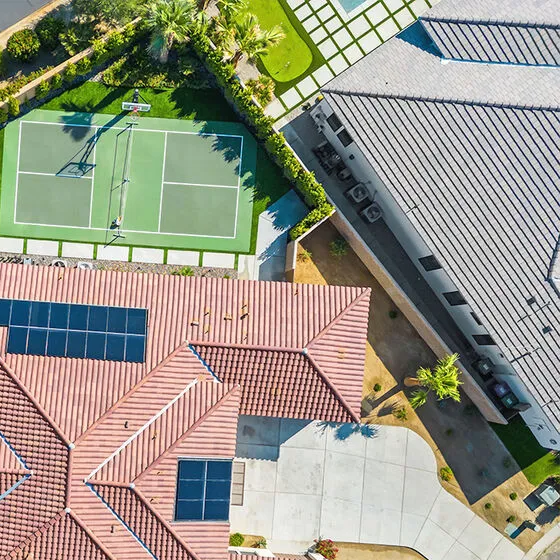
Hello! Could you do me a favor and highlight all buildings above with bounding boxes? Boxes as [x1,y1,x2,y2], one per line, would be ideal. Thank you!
[309,0,560,448]
[0,264,372,560]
